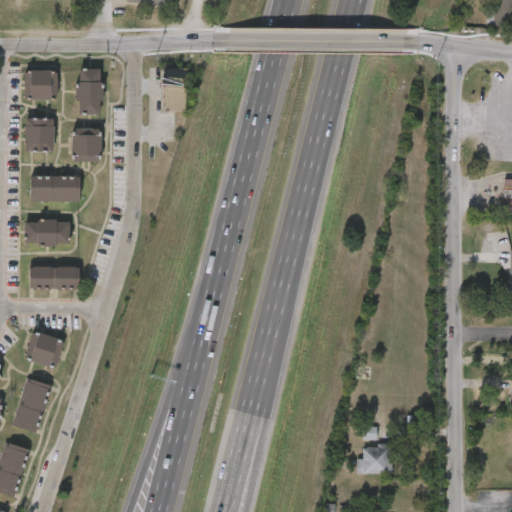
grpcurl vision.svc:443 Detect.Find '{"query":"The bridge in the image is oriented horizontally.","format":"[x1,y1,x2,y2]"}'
[214,28,420,54]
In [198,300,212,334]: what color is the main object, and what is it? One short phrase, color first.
white vehicle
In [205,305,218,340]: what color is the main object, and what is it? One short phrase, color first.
white vehicle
